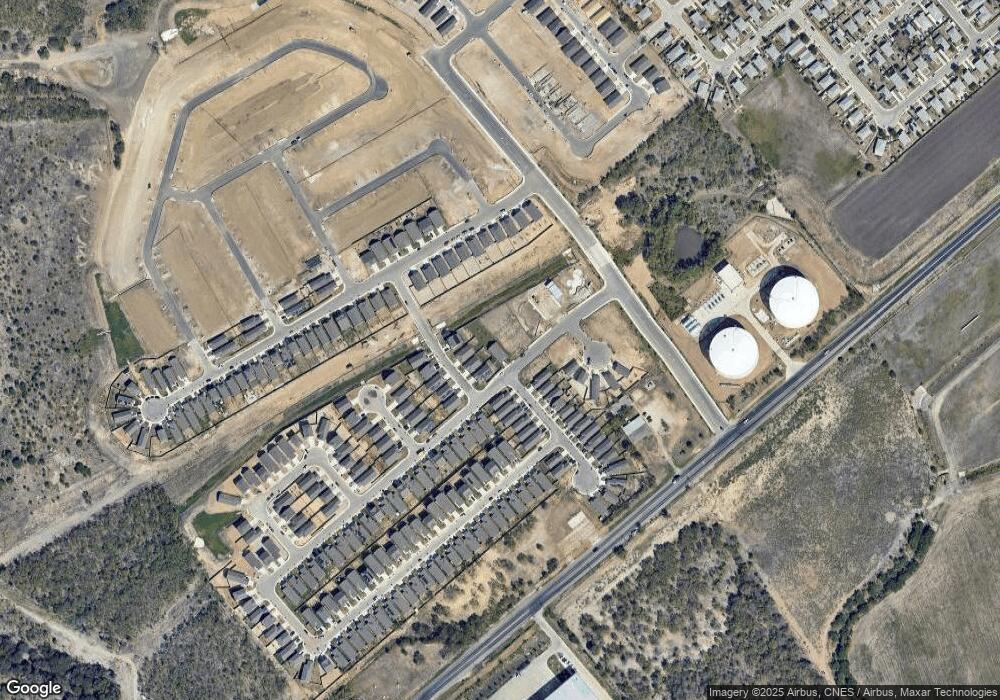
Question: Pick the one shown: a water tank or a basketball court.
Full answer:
Looking from above, you can make out a water tank.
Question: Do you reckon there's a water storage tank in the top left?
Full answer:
No, no water storage tank can be made out in the top left.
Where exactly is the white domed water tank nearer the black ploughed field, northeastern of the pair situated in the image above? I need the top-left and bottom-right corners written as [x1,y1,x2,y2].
[770,273,820,324]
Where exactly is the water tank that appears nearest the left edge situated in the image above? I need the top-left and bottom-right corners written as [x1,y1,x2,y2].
[709,328,760,378]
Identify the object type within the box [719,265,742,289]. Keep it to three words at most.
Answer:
building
